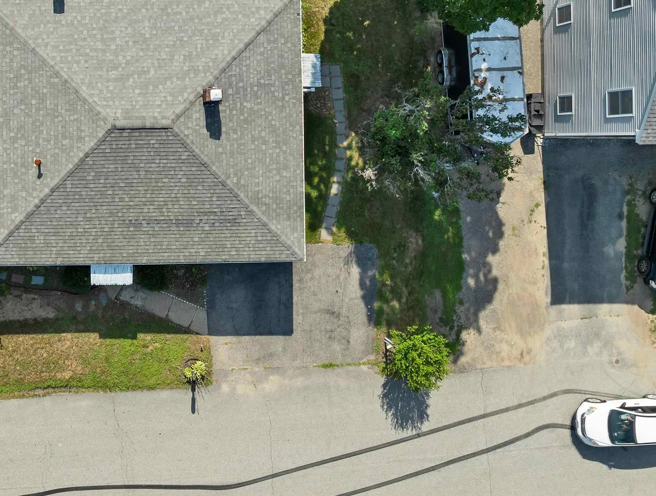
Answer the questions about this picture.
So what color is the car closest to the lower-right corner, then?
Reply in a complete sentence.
The car closest to the lower-right corner is white.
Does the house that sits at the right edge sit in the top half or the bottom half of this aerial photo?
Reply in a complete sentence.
The house that sits at the right edge is in the top half of the image.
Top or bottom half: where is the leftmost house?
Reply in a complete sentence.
The leftmost house sits in the top half of the picture.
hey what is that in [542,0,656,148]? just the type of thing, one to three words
house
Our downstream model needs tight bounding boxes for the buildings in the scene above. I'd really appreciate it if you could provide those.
[542,0,656,148]
[0,0,323,286]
